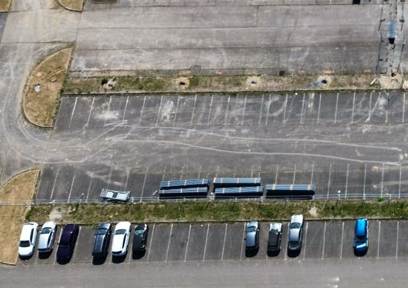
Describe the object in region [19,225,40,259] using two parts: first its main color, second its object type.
white car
